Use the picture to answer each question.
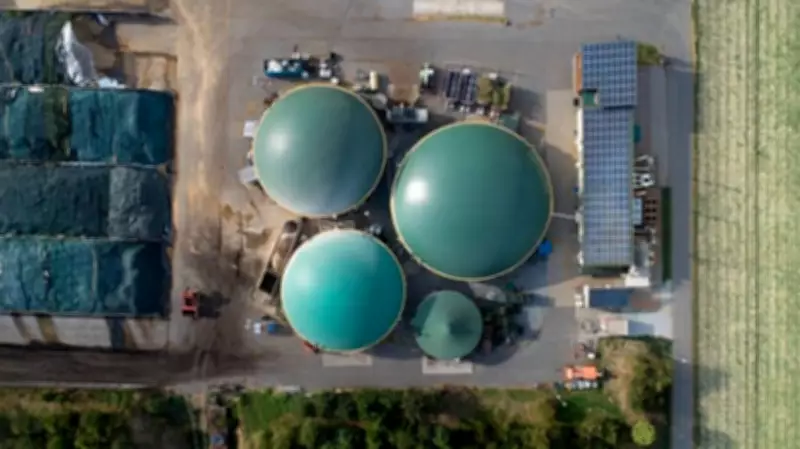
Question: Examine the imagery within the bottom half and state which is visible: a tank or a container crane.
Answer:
tank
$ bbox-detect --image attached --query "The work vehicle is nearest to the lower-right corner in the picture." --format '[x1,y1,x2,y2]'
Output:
[561,363,603,380]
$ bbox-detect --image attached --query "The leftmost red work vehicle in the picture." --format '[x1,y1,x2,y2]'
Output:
[183,283,200,318]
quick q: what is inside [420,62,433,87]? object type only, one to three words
vehicle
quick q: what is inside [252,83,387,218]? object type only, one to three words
storage tank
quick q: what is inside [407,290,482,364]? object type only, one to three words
storage tank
